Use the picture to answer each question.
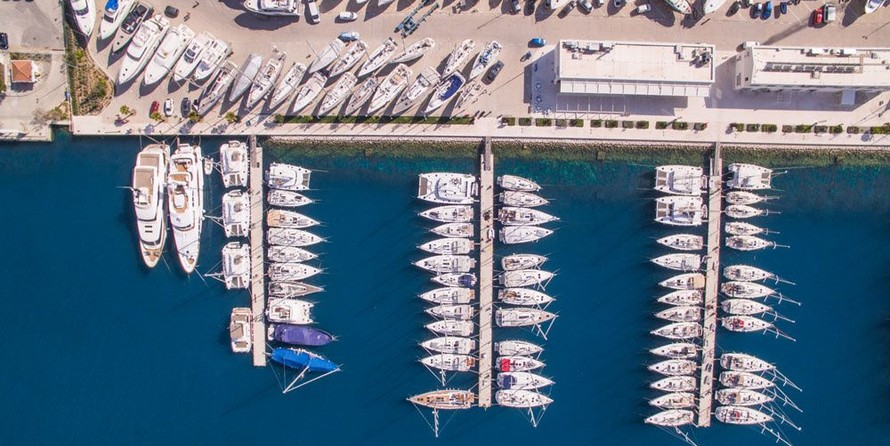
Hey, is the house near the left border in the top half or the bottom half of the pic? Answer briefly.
top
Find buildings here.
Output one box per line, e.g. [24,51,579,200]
[11,61,43,83]
[554,40,716,117]
[734,46,890,106]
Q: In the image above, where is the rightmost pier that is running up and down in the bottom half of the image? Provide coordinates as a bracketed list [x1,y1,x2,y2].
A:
[698,158,721,427]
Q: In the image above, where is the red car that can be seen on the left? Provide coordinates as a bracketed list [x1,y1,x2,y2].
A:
[148,99,161,117]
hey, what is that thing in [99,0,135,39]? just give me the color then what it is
white boat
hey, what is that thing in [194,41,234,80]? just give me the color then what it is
white boat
